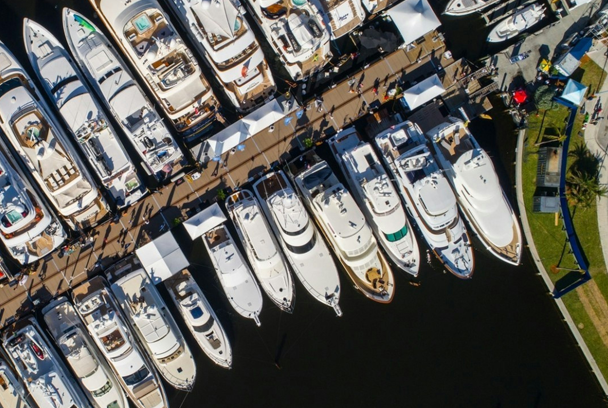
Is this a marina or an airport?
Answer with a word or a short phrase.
marina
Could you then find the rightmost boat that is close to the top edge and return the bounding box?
[484,0,556,43]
